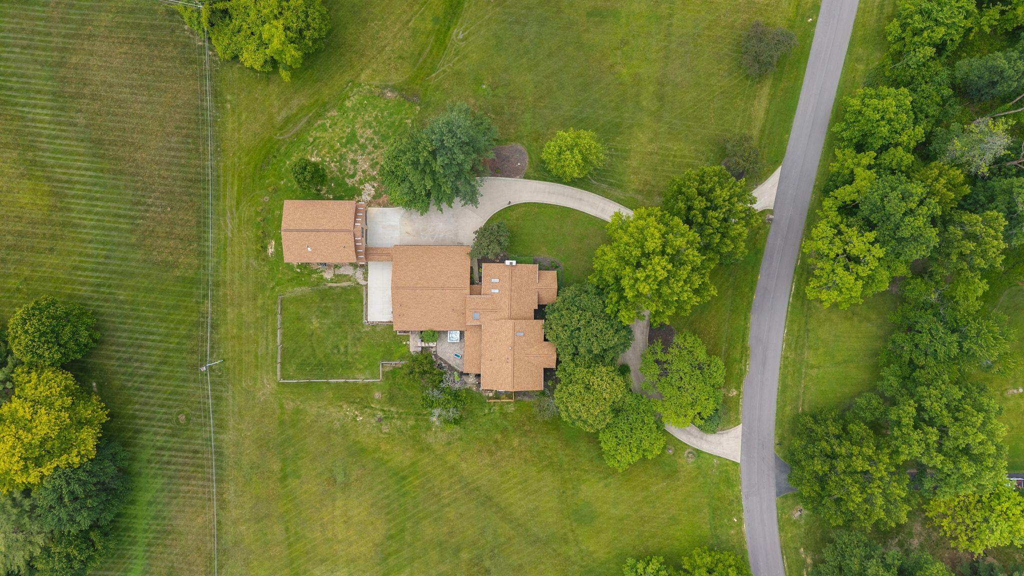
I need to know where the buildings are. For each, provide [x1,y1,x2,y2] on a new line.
[280,200,371,264]
[392,245,557,391]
